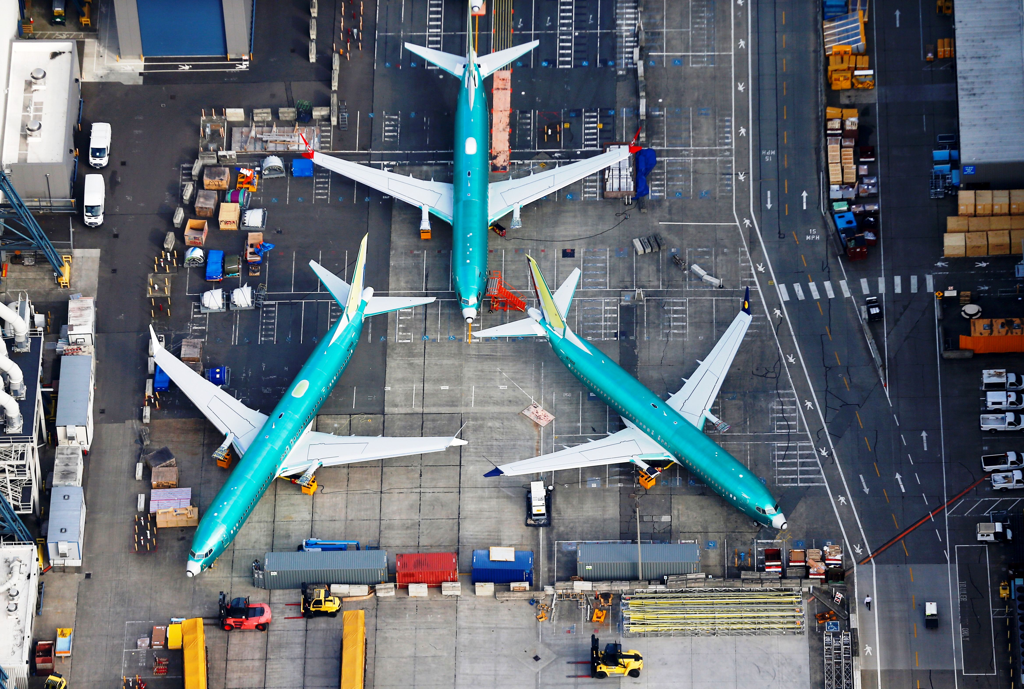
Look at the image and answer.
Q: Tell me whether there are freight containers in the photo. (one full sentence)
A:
Yes, the image includes a freight container.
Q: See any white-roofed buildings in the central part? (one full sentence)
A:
No, I see no white-roofed building in the central part.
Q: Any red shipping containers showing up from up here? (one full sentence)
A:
Yes, there is a red shipping container in the image.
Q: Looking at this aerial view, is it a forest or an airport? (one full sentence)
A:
The area seen from above is an airport.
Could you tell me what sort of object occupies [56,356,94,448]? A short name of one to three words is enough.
building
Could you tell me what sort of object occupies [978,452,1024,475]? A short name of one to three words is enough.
truck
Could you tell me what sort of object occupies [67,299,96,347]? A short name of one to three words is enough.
building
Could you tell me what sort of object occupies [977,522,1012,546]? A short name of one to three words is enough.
vehicle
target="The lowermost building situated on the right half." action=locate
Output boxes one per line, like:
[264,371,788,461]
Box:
[960,318,1024,354]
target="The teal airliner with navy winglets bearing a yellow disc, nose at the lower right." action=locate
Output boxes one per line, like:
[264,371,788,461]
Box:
[474,253,787,529]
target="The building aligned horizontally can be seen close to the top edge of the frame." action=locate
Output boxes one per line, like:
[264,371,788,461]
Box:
[114,0,256,59]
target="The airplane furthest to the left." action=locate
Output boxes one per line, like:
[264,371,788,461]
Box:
[145,235,468,576]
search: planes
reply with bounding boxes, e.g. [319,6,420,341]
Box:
[474,253,787,529]
[297,0,644,326]
[145,235,468,576]
[466,0,487,12]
